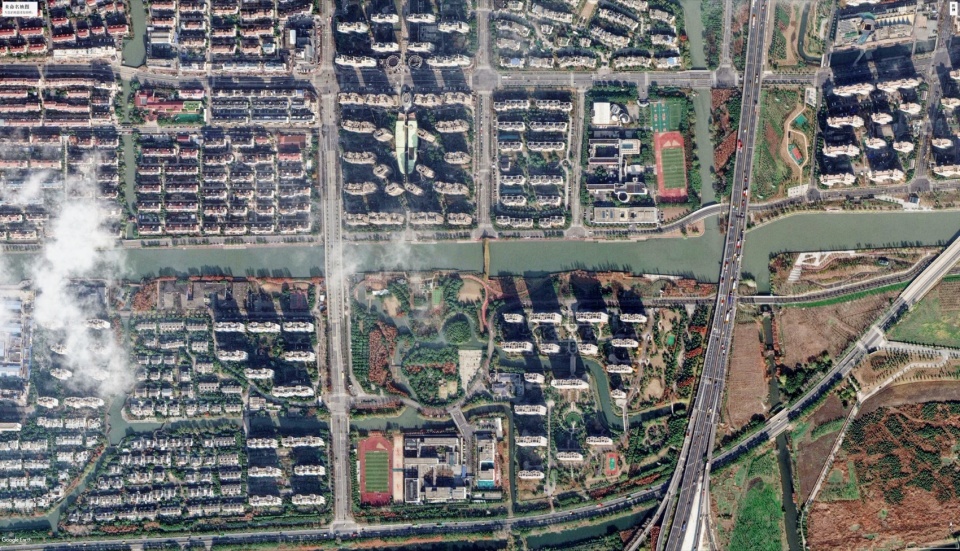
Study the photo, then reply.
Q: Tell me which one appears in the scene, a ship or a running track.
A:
running track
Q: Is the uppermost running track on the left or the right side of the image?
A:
right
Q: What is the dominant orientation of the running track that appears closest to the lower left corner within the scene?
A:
from top to bottom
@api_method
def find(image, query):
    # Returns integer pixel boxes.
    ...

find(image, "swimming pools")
[499,134,519,140]
[501,187,523,194]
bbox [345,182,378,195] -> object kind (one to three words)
building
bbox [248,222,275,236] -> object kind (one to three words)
building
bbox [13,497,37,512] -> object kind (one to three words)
house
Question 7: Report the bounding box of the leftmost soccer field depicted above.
[366,452,389,492]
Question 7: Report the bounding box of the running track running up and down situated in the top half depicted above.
[654,131,687,201]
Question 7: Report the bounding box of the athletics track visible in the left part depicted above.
[359,430,393,503]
